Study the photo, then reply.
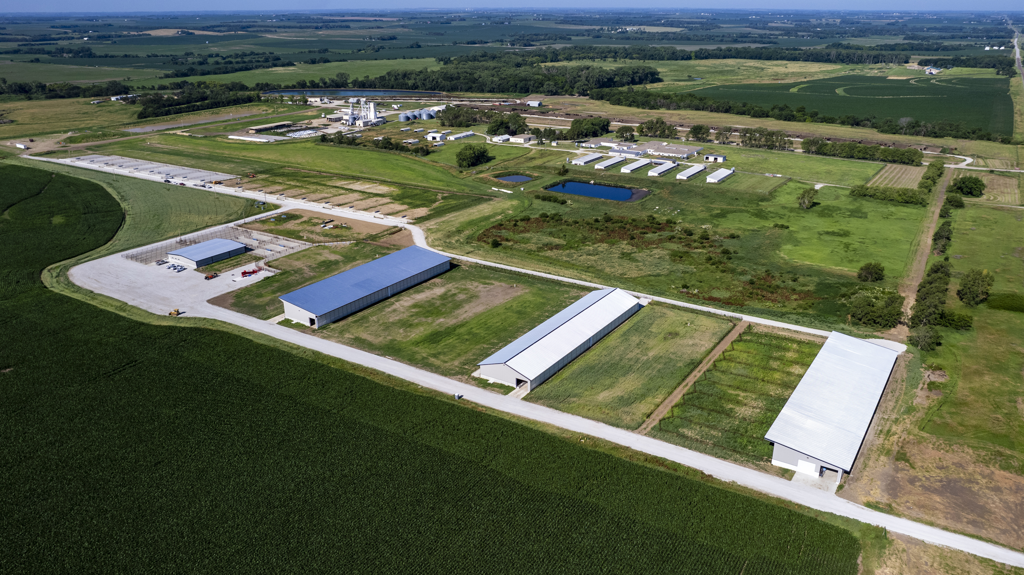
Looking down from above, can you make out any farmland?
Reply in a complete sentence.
Yes, farmland can be seen from above here.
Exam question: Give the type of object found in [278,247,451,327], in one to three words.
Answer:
barn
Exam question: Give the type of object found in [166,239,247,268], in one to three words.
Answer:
barn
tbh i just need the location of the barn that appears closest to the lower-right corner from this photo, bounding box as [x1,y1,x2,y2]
[765,327,901,484]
